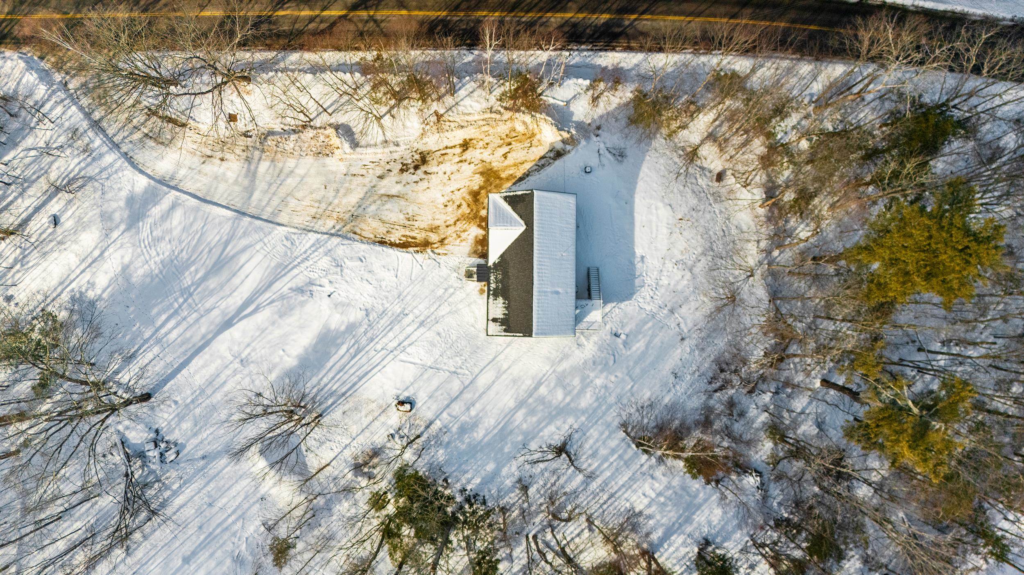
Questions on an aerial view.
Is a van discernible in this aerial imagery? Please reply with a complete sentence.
No, the picture doesn't show any van.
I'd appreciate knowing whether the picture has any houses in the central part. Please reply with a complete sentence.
Yes, a house can be seen in the central part.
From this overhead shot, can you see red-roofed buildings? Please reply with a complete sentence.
No, the frame has no red-roofed building in it.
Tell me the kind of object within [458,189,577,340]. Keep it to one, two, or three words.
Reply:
house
